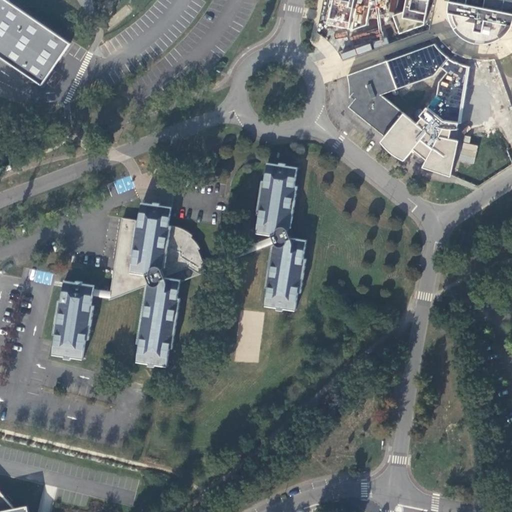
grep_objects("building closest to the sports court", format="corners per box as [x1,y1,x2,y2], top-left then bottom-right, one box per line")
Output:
[264,234,308,312]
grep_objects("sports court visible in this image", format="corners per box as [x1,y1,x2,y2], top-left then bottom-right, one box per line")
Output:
[234,310,265,364]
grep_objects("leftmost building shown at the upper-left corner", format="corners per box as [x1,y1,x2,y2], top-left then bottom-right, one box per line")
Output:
[0,0,70,84]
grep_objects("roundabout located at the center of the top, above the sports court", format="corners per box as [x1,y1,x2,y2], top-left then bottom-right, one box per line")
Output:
[218,36,337,142]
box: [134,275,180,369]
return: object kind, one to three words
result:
building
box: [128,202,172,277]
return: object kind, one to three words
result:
building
